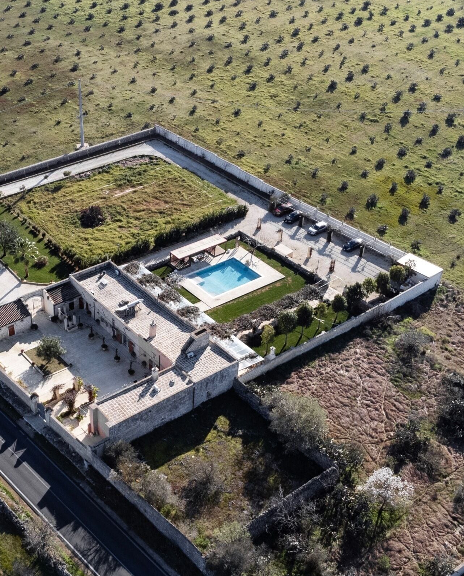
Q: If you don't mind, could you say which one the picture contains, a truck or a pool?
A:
pool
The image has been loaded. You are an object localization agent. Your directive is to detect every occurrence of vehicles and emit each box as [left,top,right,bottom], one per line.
[309,221,329,235]
[273,203,292,215]
[342,238,363,252]
[286,211,306,223]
